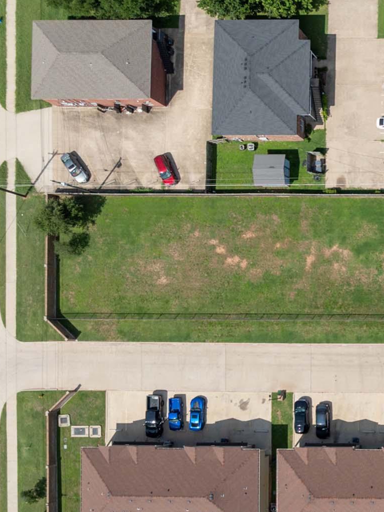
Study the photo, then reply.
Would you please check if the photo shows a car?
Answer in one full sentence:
Yes, the frame does contain a car.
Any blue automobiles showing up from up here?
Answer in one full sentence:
Yes, there is a blue automobile in the image.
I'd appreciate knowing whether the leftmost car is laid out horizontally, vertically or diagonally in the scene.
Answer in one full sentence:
The leftmost car runs diagonally in the image.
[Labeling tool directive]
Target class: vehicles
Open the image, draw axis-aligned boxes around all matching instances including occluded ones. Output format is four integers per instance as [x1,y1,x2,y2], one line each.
[377,116,384,130]
[187,397,205,430]
[293,400,310,434]
[62,151,90,183]
[144,395,164,436]
[156,152,178,185]
[315,403,331,437]
[166,397,184,430]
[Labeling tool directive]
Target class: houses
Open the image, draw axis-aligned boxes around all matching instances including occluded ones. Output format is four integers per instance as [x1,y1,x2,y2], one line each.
[212,20,327,141]
[32,19,180,107]
[80,441,270,512]
[276,442,384,512]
